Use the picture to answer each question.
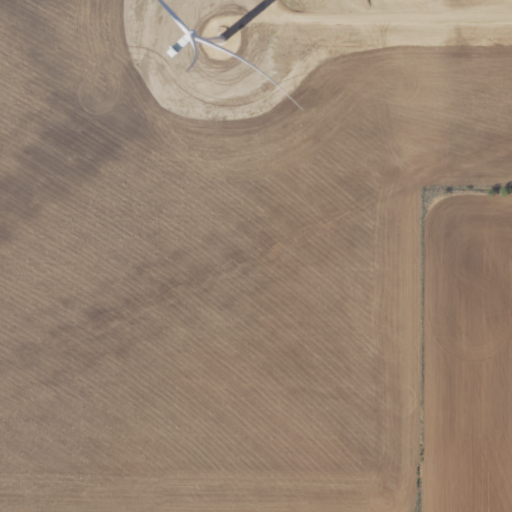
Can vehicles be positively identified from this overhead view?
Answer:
No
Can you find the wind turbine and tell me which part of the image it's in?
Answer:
top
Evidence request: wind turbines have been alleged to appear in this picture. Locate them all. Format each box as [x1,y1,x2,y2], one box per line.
[159,0,302,110]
